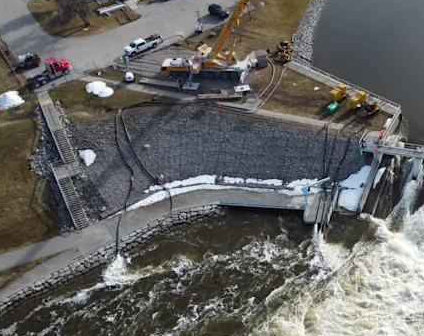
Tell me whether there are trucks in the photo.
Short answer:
Yes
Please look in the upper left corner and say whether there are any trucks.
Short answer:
Yes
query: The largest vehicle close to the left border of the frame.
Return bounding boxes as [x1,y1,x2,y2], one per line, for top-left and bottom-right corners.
[19,61,71,97]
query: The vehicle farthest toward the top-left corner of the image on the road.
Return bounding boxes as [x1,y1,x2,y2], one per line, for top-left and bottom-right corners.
[7,45,44,68]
